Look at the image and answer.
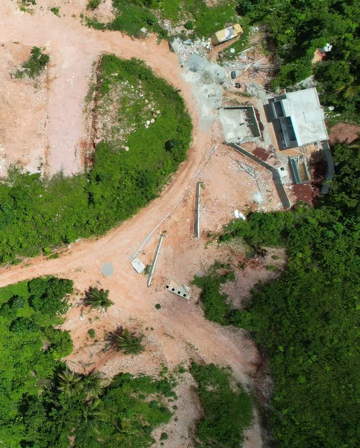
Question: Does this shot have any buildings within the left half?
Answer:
No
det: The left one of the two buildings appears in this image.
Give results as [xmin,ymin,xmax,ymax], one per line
[217,105,262,144]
